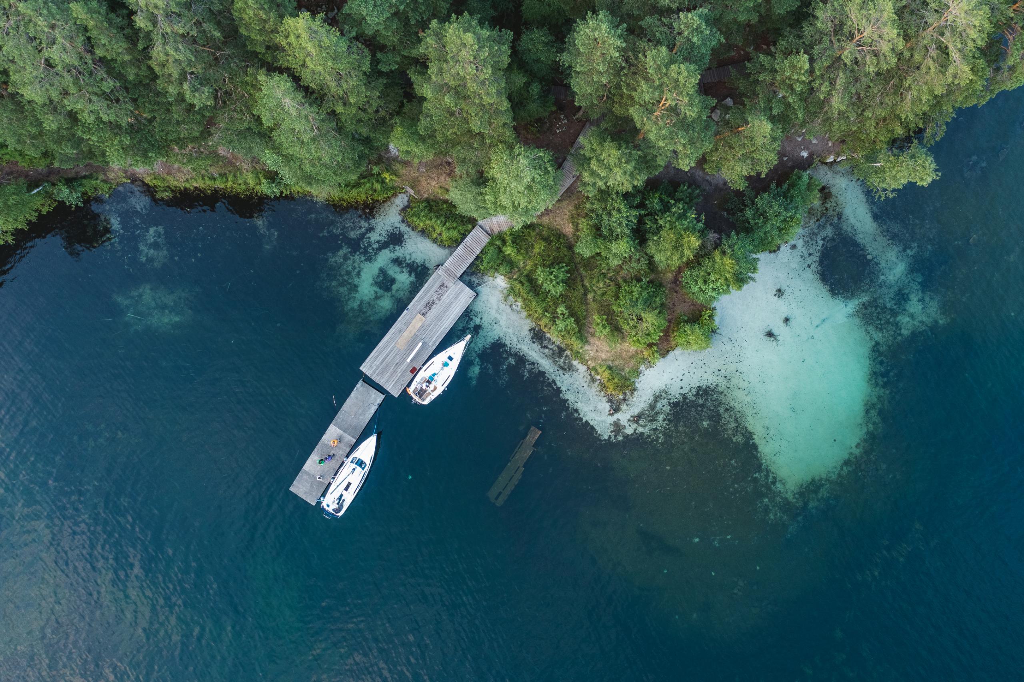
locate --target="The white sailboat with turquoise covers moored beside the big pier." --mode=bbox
[408,335,470,405]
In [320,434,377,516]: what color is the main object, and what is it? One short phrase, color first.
white boat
